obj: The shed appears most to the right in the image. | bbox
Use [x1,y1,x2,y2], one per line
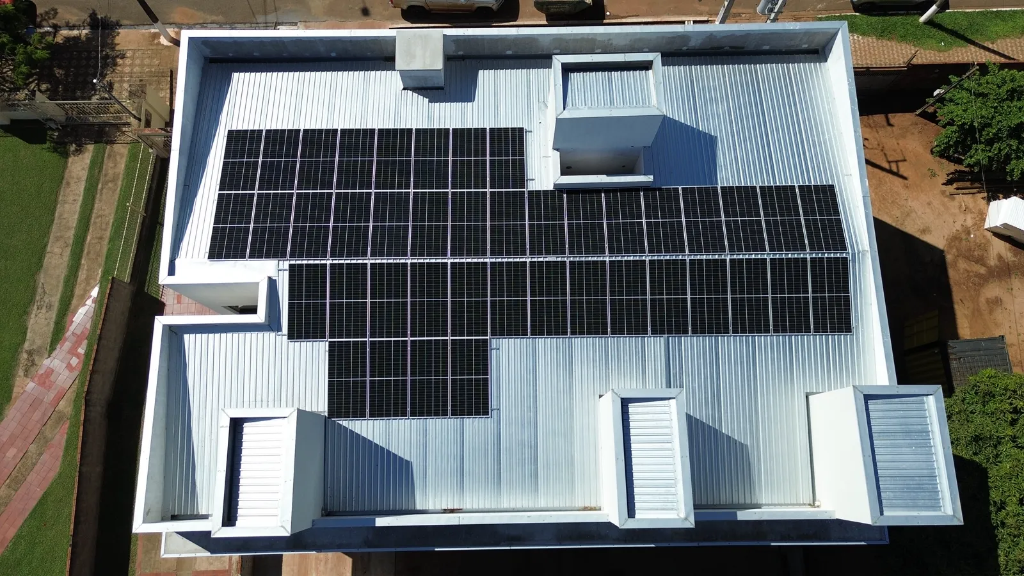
[977,198,1024,248]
